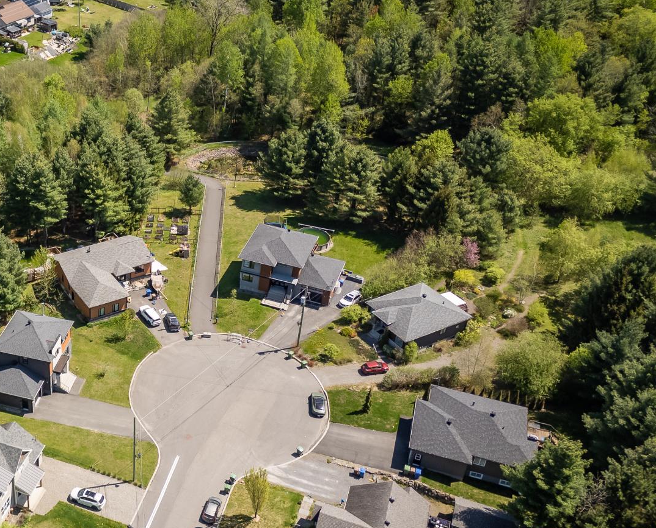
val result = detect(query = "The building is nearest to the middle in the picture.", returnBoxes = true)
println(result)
[237,222,343,310]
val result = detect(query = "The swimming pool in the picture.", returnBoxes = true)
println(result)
[301,222,339,247]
